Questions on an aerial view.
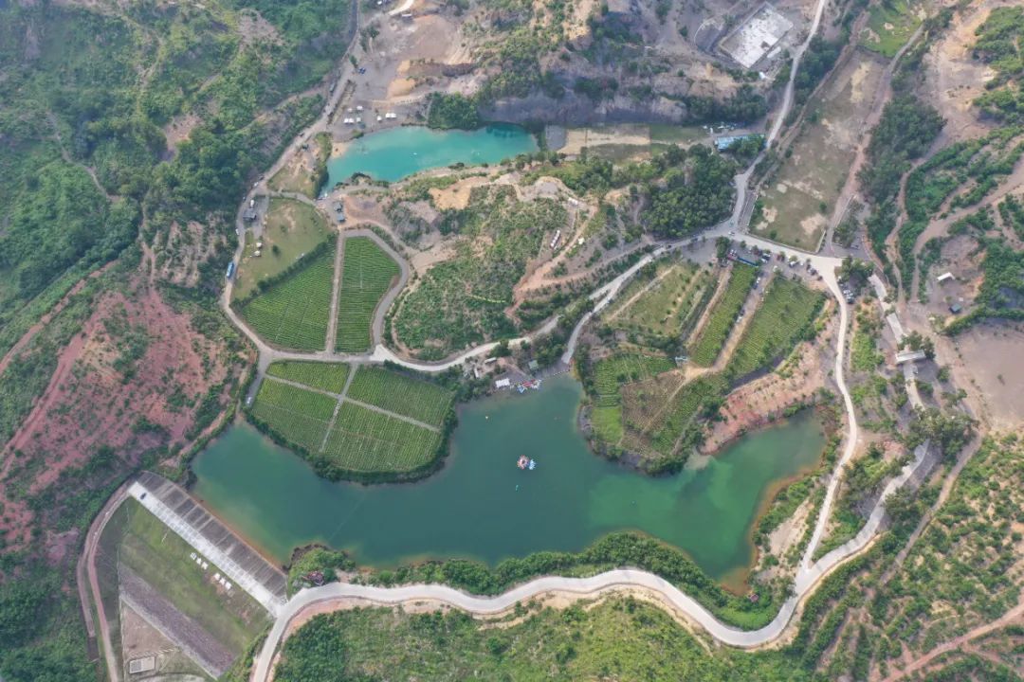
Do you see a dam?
Yes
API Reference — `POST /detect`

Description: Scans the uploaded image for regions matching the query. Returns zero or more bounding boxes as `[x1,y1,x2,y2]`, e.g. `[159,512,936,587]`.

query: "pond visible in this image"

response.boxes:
[321,123,537,195]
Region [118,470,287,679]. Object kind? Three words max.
dam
